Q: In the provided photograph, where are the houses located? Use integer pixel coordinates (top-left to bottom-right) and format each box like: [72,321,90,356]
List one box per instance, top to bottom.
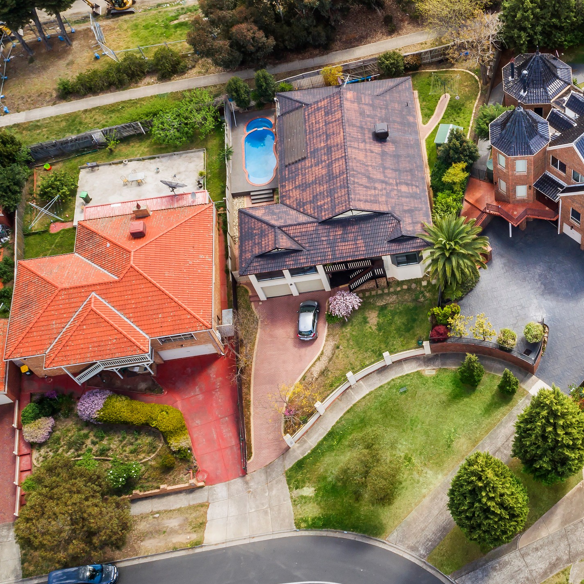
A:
[439,43,584,238]
[238,71,438,300]
[2,196,225,392]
